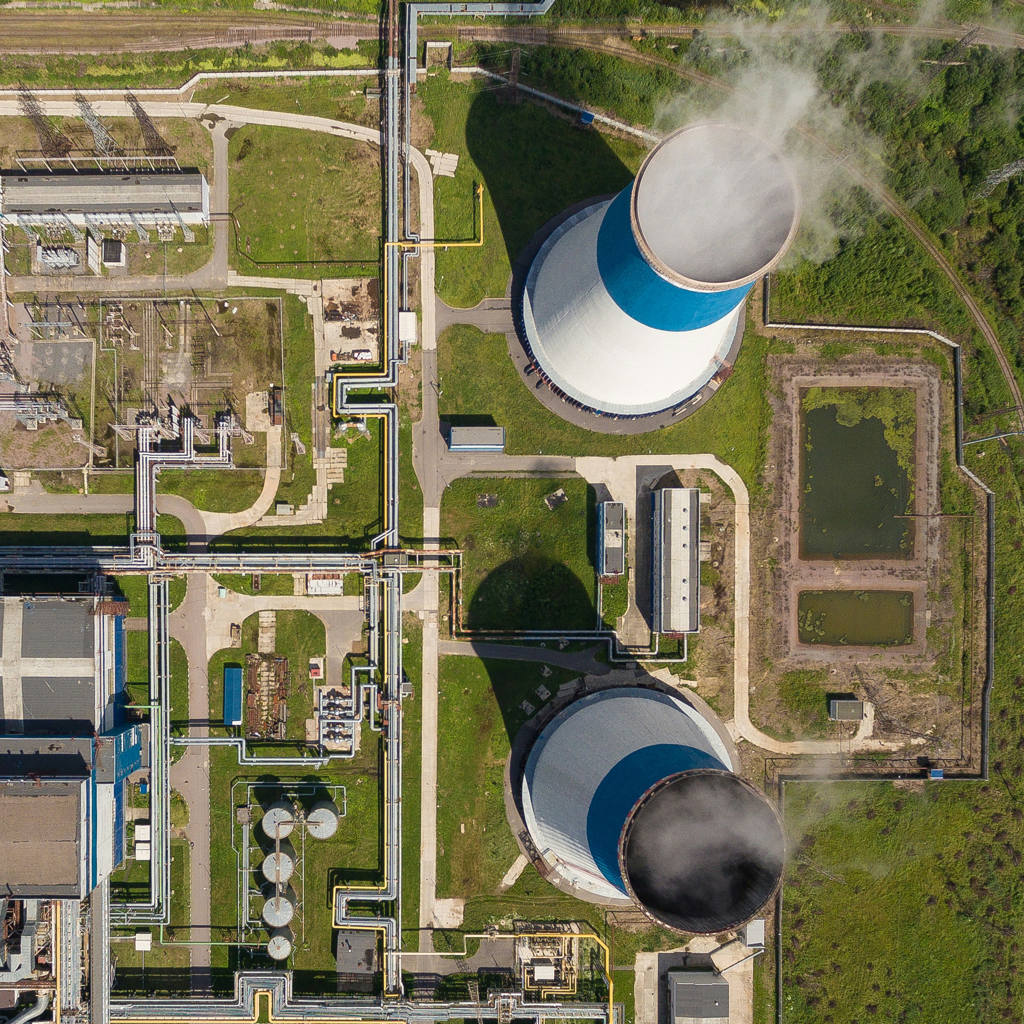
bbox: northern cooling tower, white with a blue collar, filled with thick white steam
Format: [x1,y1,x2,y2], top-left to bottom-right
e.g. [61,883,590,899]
[507,122,801,435]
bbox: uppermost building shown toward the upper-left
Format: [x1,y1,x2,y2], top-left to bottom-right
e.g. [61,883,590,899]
[0,174,208,225]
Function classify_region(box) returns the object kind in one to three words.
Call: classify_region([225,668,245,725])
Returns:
shed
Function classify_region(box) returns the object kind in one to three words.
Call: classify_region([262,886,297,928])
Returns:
storage tank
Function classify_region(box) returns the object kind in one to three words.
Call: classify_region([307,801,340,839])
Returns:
storage tank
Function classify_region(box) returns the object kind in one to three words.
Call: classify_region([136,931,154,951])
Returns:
building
